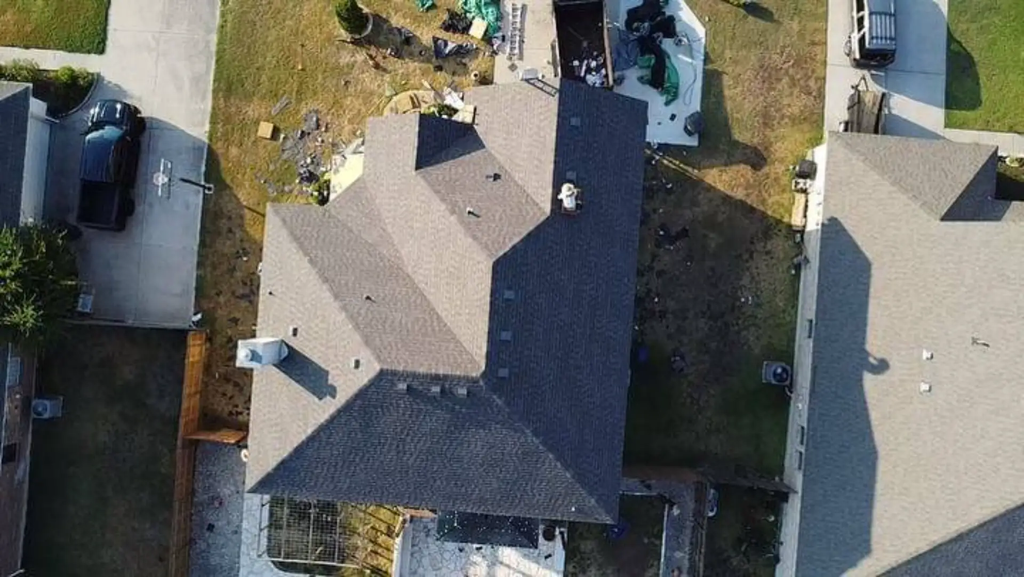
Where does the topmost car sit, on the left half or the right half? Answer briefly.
right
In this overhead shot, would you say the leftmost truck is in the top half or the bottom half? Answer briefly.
top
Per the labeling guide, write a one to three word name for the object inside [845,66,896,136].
trailer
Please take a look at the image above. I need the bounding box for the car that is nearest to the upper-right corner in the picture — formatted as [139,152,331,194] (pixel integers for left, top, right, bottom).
[852,0,910,67]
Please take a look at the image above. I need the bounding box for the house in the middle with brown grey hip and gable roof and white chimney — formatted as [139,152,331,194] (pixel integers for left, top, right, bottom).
[234,80,648,524]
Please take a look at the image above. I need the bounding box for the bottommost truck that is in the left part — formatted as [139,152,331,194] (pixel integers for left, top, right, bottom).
[73,96,140,229]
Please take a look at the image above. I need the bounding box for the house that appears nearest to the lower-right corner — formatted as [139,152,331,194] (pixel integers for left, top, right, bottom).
[779,131,1024,577]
